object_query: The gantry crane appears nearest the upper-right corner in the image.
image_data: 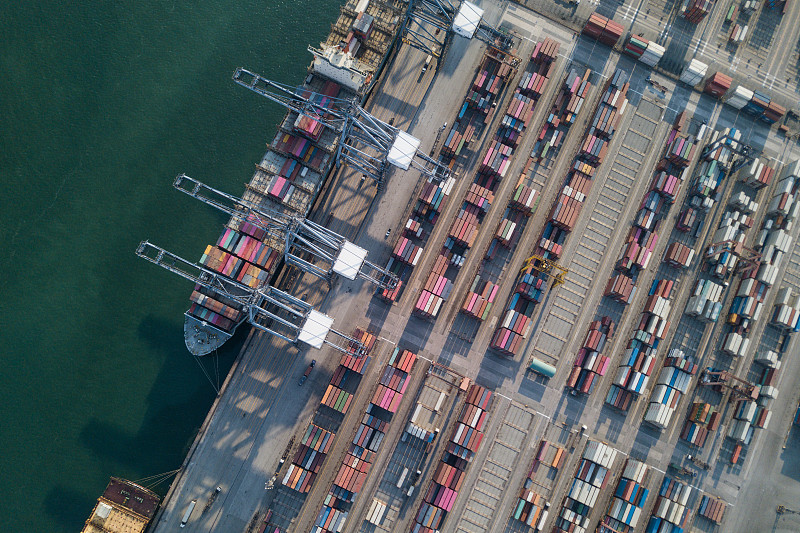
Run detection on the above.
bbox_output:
[698,134,758,175]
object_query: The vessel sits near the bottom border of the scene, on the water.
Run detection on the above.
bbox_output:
[80,474,166,533]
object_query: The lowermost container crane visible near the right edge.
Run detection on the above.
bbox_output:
[696,370,761,399]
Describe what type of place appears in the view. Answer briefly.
port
